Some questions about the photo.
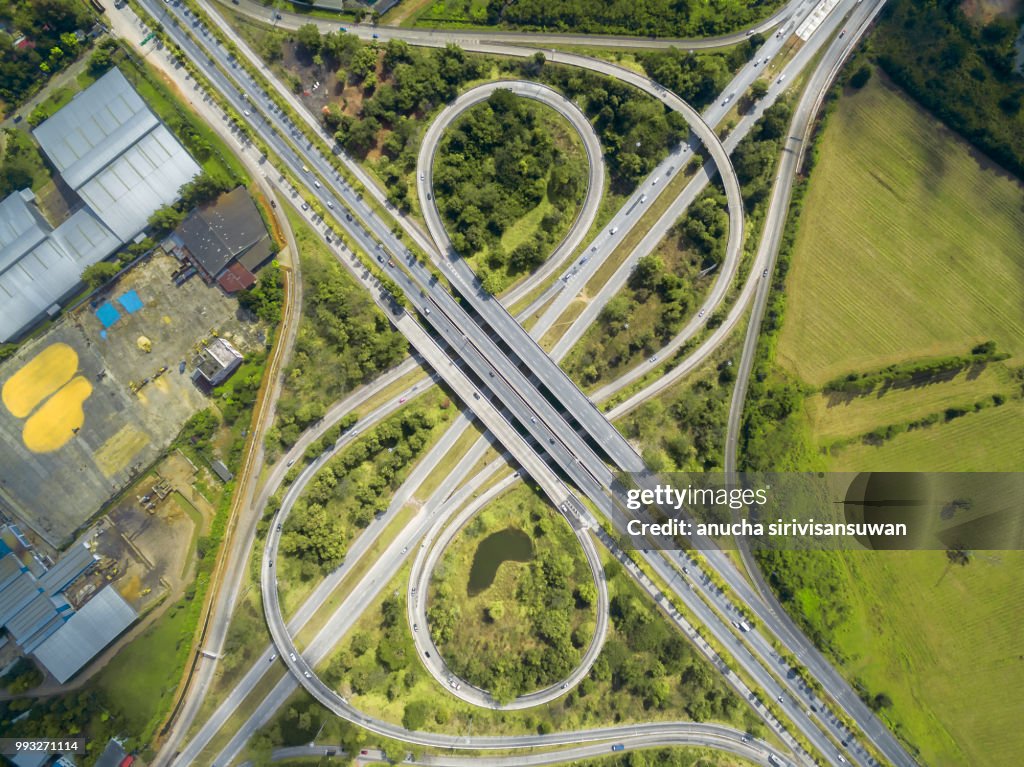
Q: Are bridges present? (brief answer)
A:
Yes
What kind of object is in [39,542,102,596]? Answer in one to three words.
building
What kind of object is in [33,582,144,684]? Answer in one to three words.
building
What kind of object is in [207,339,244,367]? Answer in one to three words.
house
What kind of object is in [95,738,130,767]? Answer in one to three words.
house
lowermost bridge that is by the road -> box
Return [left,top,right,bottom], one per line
[260,476,348,709]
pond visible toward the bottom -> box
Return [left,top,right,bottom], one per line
[466,527,534,595]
